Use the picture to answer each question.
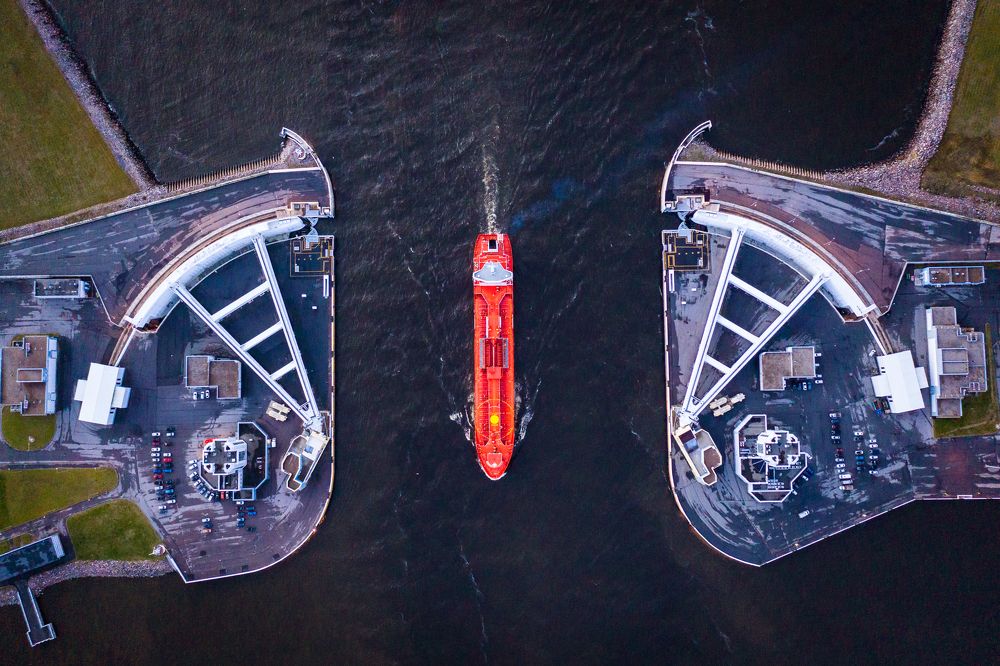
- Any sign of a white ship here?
No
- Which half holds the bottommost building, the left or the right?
left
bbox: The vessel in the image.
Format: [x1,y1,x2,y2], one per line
[473,234,515,479]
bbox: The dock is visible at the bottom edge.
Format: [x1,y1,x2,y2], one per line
[17,585,58,647]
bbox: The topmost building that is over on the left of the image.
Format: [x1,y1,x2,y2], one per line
[277,202,321,218]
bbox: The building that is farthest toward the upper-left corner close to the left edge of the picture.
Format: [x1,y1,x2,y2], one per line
[34,280,89,298]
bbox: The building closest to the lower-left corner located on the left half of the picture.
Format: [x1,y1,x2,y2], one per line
[0,533,65,584]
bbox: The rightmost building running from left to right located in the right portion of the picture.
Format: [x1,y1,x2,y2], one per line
[914,267,984,287]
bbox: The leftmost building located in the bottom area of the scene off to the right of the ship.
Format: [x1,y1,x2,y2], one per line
[672,424,721,486]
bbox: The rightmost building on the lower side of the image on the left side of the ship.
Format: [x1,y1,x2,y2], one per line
[281,431,332,490]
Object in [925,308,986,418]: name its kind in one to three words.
building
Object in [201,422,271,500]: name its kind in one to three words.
building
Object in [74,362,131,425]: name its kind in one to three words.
house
